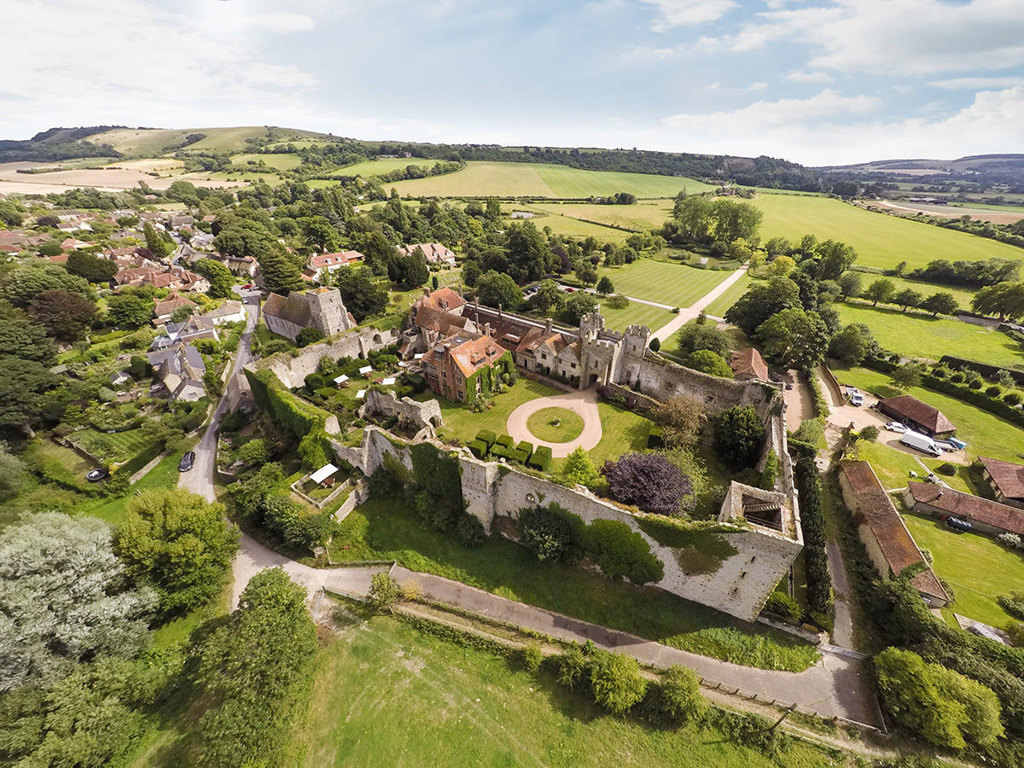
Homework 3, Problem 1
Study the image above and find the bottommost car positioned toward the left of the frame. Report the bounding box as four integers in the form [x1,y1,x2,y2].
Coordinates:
[178,451,193,467]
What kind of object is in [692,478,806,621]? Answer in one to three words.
building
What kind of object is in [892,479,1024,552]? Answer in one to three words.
barn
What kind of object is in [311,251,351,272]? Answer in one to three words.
house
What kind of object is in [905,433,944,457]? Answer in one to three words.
vehicle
